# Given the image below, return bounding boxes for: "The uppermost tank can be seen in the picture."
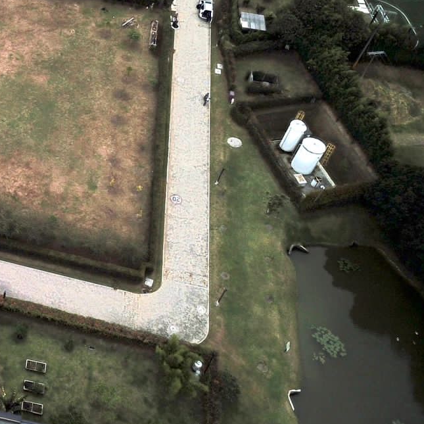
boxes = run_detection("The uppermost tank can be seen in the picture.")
[279,119,310,155]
